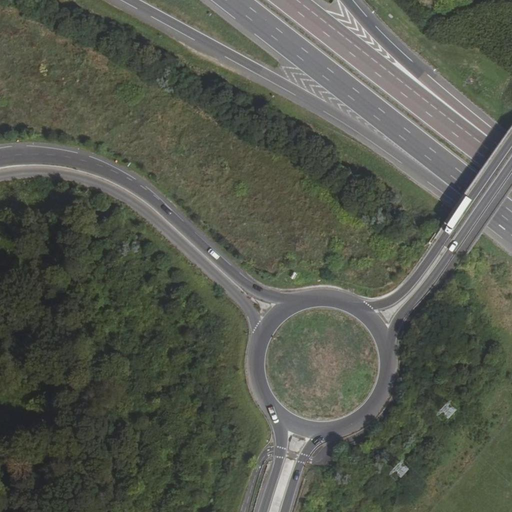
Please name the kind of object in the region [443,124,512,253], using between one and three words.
overpass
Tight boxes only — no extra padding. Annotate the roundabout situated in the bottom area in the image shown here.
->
[246,282,398,440]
